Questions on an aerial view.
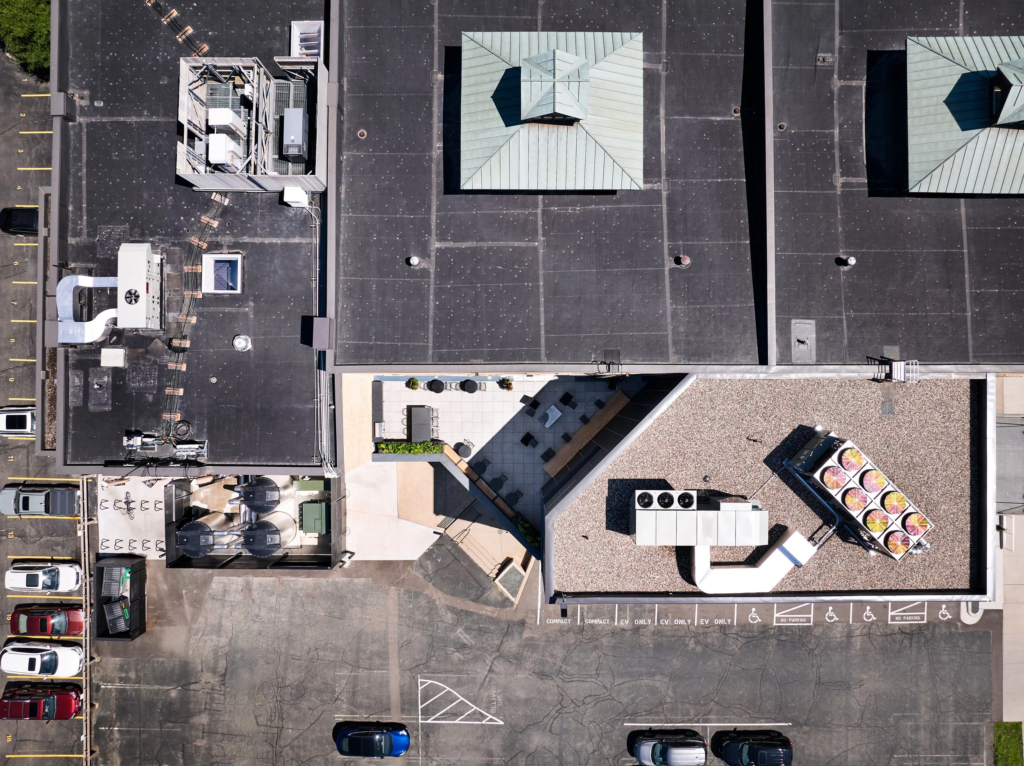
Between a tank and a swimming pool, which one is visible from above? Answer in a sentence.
The image shows a tank.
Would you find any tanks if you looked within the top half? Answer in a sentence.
No, no tank can be made out within the top half.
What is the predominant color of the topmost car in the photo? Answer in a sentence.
The topmost car is black.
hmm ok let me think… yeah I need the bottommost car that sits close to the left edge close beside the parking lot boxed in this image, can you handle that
[0,688,83,729]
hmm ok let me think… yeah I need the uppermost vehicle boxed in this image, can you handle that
[0,203,38,238]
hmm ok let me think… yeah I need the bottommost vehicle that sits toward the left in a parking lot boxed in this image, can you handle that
[337,720,413,762]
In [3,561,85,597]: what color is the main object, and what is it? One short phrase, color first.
white car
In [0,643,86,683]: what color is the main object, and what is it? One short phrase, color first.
white car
